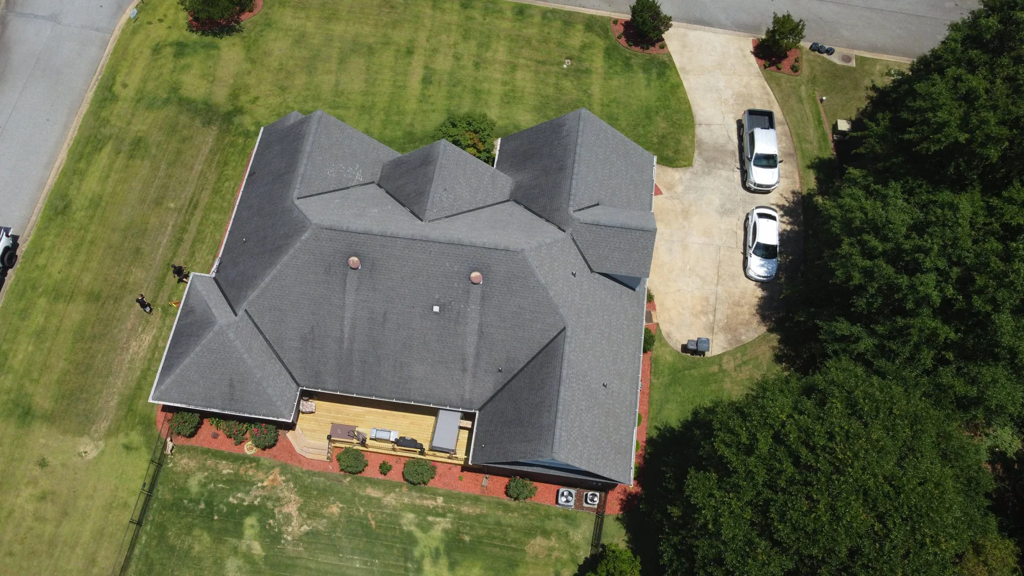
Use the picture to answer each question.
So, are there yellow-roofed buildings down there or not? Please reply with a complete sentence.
No, no yellow-roofed building can be seen from above.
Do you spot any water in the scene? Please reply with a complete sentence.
No, there's no water in this view.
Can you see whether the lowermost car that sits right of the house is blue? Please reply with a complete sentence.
No, the lowermost car that sits right of the house is white.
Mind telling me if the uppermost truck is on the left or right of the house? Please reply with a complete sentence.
The uppermost truck is to the right of the house.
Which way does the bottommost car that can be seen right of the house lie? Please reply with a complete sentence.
The bottommost car that can be seen right of the house is oriented vertically.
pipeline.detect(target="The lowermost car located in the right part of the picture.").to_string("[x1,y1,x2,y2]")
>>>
[742,205,783,286]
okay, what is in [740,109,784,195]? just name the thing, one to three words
truck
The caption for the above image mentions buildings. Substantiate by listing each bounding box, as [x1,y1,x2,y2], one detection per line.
[151,106,660,485]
